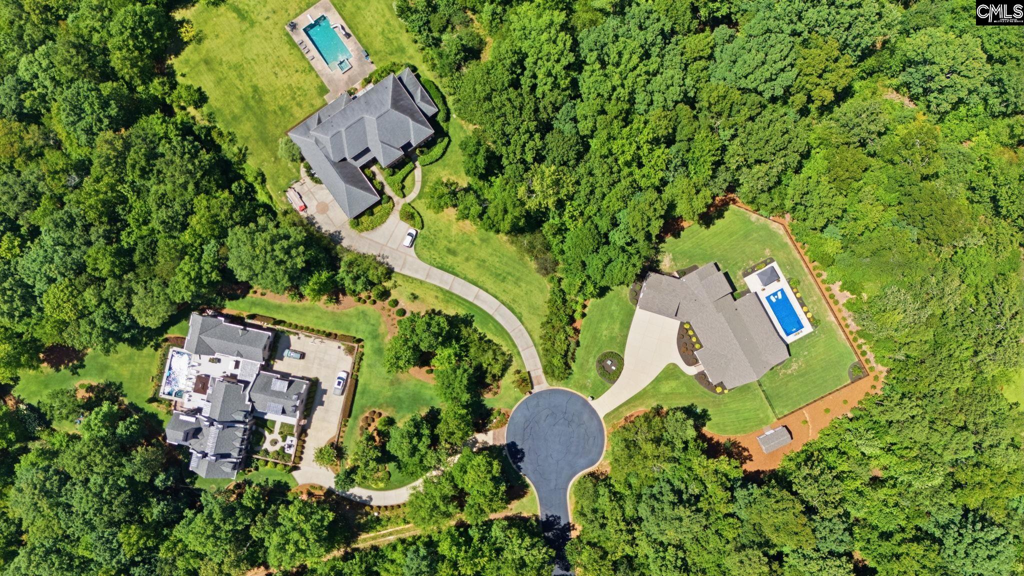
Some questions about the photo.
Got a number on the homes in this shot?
3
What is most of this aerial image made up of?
trees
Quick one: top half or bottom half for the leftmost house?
bottom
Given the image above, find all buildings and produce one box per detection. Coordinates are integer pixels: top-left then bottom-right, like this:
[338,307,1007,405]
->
[636,262,790,389]
[166,313,314,479]
[288,67,438,219]
[755,424,793,453]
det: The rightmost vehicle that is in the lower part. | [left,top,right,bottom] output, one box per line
[332,371,347,397]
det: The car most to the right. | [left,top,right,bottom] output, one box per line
[402,228,417,248]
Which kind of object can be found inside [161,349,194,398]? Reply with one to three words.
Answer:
swimming pool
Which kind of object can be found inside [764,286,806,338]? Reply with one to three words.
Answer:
swimming pool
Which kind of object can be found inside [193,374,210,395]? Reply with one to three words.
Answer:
gazebo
